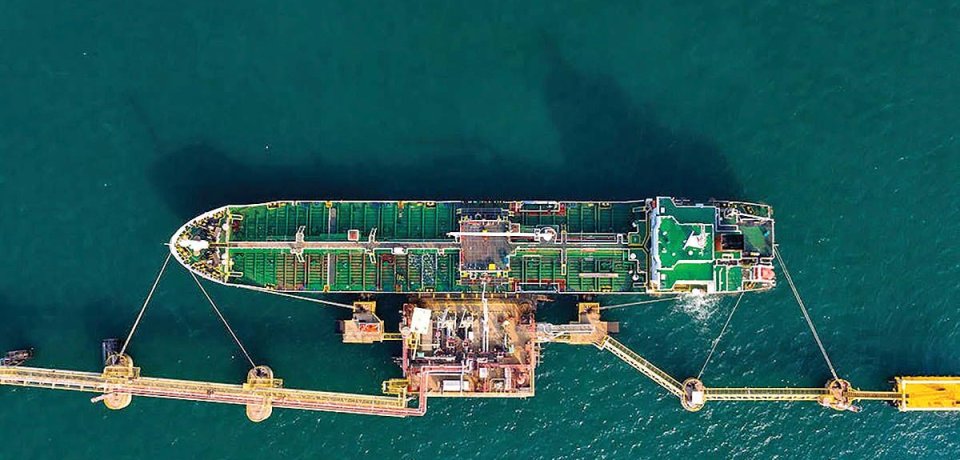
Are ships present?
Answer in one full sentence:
Yes, there's a ship down there.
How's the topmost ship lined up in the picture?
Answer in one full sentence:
What the image shows is the topmost ship lying from side to side.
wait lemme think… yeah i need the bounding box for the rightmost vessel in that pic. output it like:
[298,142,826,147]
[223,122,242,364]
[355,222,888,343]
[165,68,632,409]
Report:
[166,197,776,294]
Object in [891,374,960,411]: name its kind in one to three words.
pier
